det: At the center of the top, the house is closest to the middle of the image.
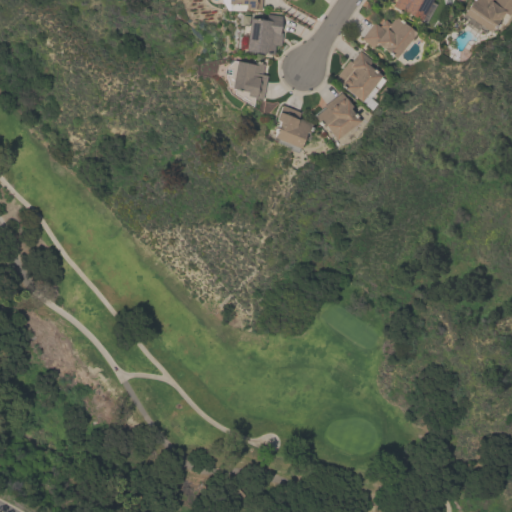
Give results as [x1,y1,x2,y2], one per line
[274,102,314,152]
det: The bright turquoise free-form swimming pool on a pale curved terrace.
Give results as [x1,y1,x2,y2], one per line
[446,26,497,62]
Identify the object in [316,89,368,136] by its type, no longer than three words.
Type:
house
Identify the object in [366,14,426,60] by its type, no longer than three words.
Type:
house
